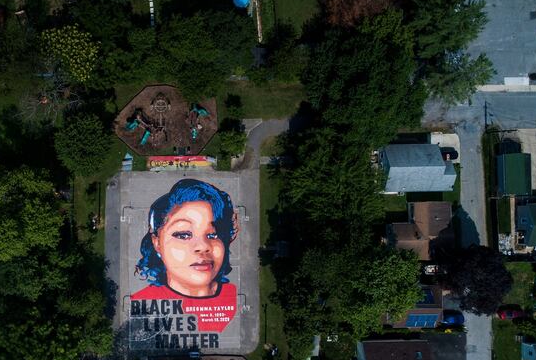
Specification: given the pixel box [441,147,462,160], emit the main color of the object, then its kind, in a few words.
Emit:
black vehicle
